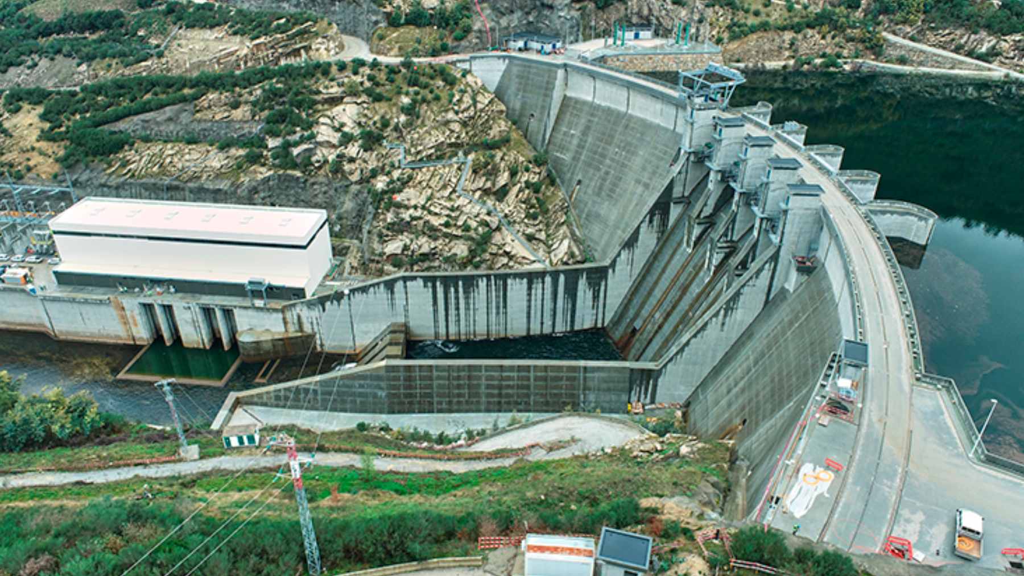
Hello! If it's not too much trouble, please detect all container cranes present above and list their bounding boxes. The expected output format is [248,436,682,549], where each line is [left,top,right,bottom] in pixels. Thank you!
[676,62,753,110]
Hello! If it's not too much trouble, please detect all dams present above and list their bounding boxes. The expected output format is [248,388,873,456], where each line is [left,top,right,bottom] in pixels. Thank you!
[452,47,1024,571]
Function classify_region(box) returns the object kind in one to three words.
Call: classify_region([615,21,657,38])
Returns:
shed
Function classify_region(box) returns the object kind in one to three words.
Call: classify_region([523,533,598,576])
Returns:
building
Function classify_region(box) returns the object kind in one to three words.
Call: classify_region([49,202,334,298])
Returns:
building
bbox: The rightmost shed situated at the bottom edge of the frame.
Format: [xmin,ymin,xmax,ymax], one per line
[599,524,656,576]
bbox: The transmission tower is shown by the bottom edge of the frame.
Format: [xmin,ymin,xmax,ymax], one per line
[270,441,322,576]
